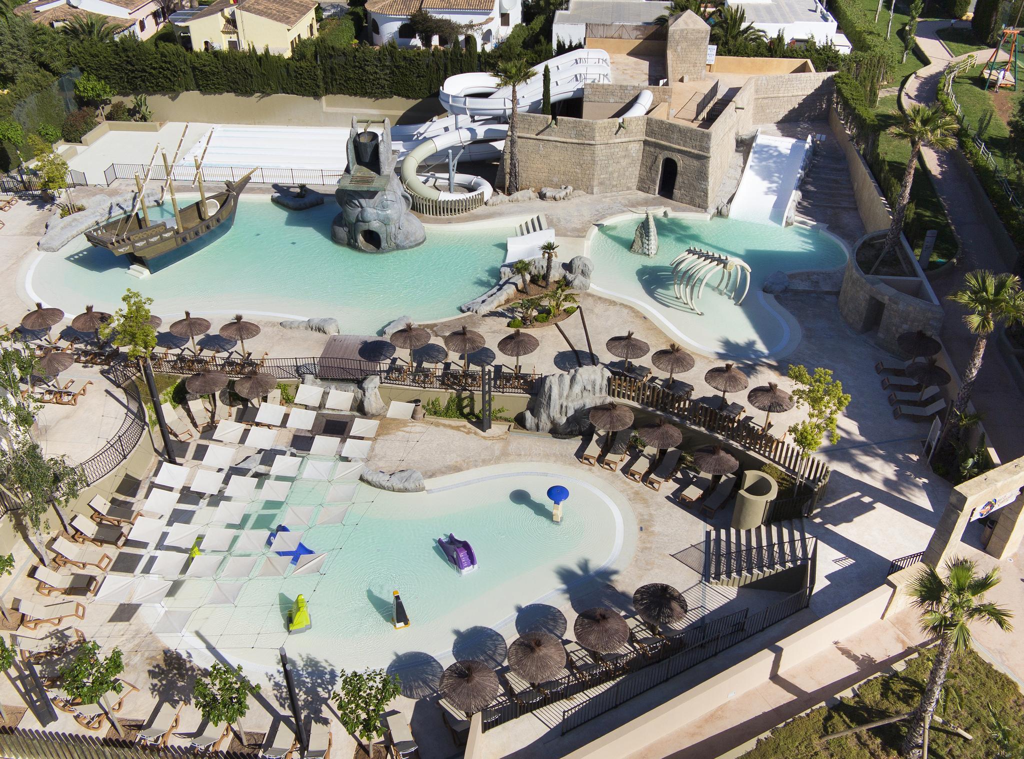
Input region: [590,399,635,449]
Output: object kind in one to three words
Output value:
umbrella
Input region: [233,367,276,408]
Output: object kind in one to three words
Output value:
umbrella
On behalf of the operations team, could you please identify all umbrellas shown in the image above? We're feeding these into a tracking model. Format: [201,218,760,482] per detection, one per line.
[390,319,432,368]
[898,326,943,361]
[506,634,566,693]
[749,381,797,426]
[169,309,212,358]
[571,608,629,665]
[437,661,500,722]
[444,322,486,372]
[703,360,749,404]
[651,342,696,387]
[185,363,229,414]
[606,327,649,371]
[68,305,108,352]
[631,582,689,640]
[233,367,276,408]
[218,314,262,363]
[590,399,635,449]
[495,325,538,375]
[636,418,683,468]
[20,302,64,350]
[903,354,951,405]
[29,345,77,390]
